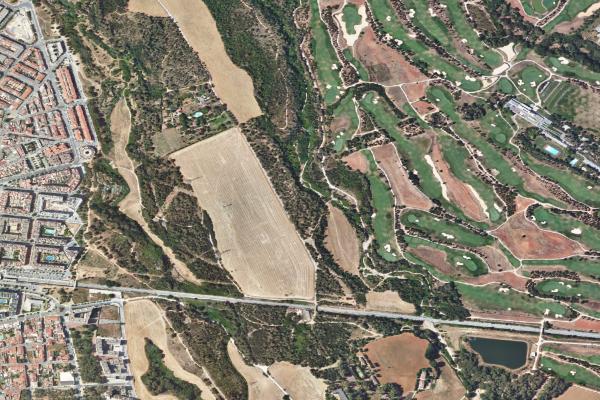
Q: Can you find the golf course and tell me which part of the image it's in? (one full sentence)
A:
Look in the right portion of the view to spot the golf course.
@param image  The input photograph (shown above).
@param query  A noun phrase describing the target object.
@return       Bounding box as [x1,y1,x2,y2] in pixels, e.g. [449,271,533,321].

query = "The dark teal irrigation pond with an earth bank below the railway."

[465,333,530,372]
